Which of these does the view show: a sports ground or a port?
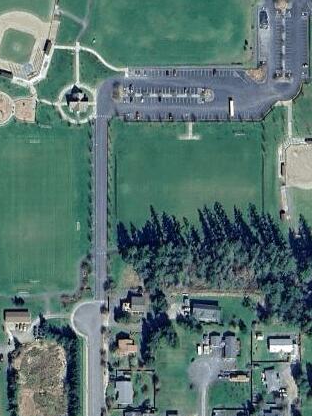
sports ground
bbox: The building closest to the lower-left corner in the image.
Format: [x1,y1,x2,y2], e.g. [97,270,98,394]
[4,311,29,323]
